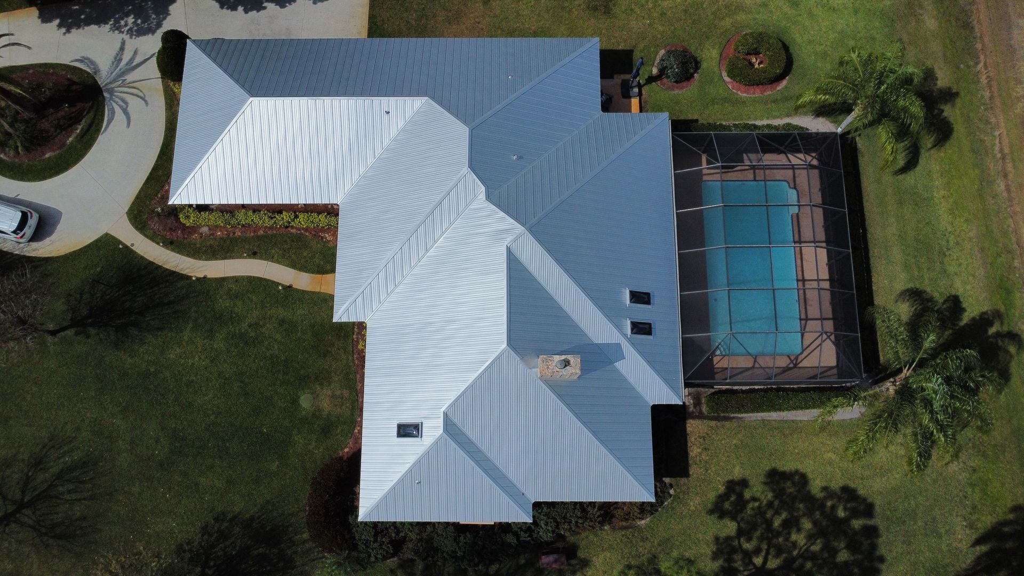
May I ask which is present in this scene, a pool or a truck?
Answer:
pool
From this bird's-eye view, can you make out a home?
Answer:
Yes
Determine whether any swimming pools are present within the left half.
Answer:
No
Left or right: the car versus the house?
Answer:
on its left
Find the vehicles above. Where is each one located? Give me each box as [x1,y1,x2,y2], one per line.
[0,204,41,245]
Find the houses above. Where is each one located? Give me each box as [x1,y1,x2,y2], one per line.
[167,37,684,524]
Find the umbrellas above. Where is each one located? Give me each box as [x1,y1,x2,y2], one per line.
[621,60,643,99]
